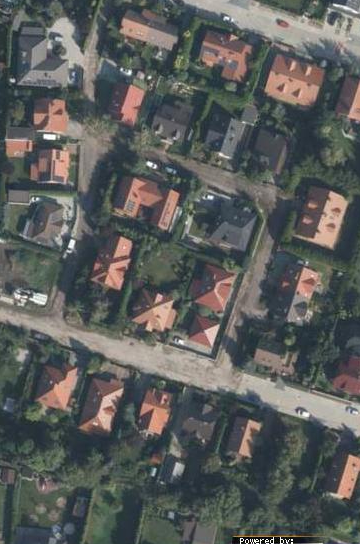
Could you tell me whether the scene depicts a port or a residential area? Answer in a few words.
residential area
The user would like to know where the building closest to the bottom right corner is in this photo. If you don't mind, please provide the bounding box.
[323,453,360,500]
